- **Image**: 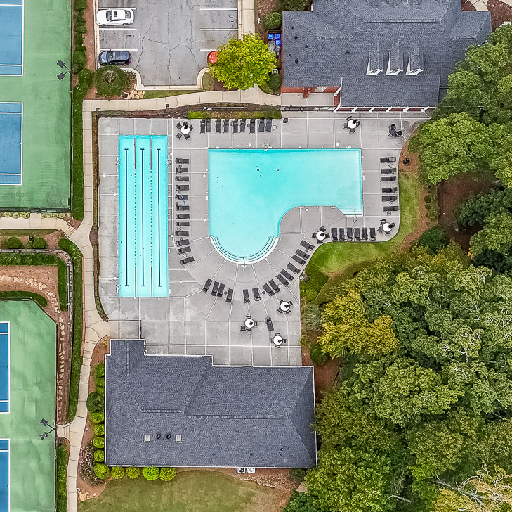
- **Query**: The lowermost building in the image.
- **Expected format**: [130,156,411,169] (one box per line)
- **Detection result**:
[104,337,318,468]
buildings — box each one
[104,337,318,468]
[277,0,492,112]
